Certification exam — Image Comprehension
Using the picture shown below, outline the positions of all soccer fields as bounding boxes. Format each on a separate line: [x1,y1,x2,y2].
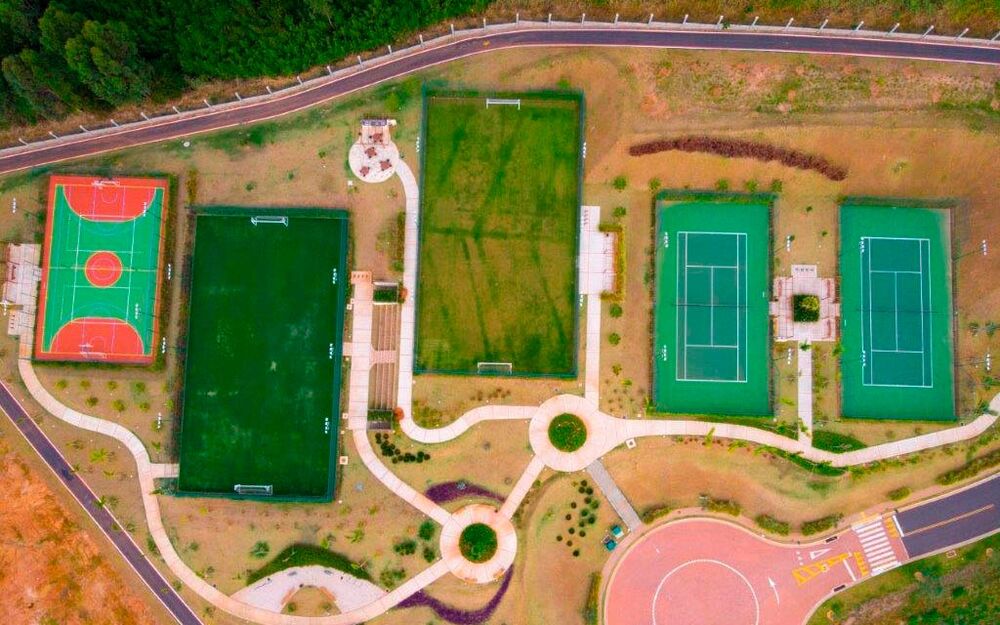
[179,215,349,495]
[416,98,579,374]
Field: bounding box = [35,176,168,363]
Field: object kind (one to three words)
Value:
sports court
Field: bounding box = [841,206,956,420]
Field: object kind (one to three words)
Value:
tennis court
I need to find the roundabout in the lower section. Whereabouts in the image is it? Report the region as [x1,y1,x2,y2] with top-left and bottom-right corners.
[602,511,910,625]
